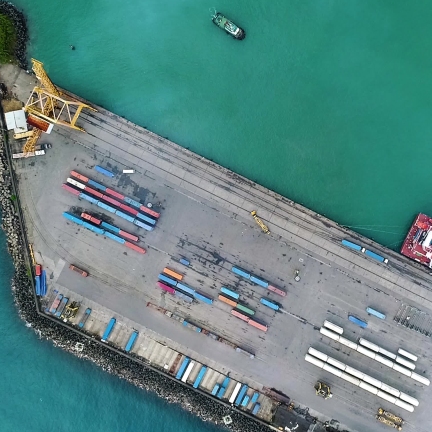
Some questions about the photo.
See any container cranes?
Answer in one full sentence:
Yes, the picture does show a container crane.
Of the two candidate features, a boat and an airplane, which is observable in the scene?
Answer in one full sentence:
I can see a boat in this picture.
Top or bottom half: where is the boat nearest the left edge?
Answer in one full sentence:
The top half of the photo is where the boat nearest the left edge is.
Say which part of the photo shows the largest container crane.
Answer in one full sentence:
The largest container crane sits in the top left section of the image.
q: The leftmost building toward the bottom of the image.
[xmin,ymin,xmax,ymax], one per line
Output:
[272,403,320,432]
